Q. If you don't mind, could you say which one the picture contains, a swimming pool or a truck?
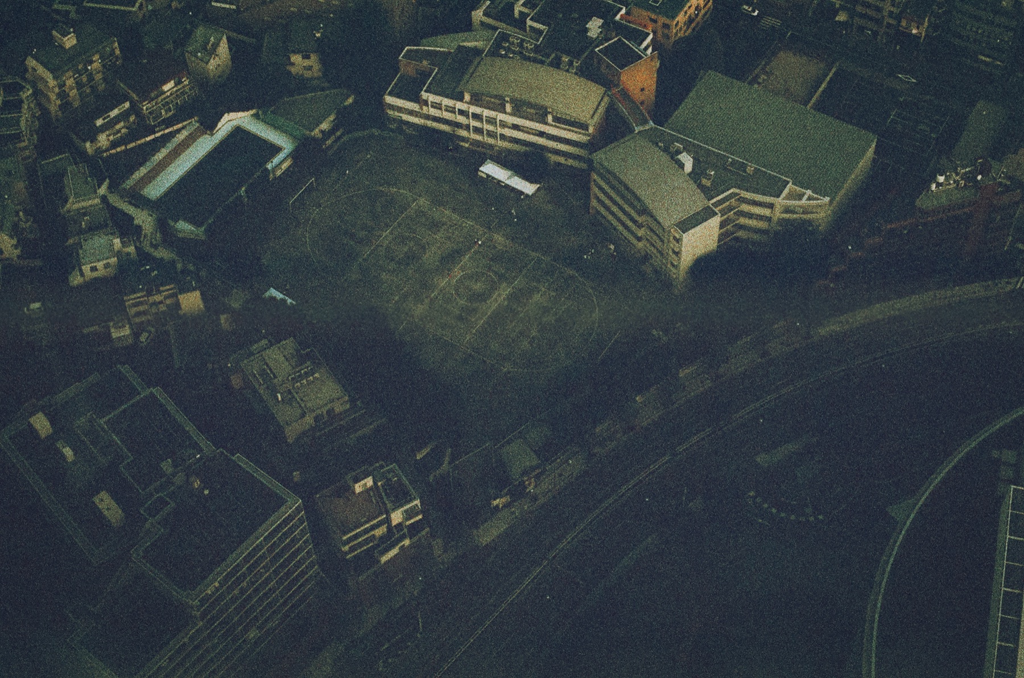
swimming pool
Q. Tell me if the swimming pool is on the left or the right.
left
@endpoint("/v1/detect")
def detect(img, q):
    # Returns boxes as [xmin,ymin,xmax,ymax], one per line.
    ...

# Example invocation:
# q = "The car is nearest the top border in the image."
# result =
[740,4,760,17]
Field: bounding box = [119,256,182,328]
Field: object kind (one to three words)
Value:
house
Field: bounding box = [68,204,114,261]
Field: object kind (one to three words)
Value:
house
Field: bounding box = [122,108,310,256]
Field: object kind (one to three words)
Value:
swimming pool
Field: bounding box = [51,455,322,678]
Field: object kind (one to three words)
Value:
building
